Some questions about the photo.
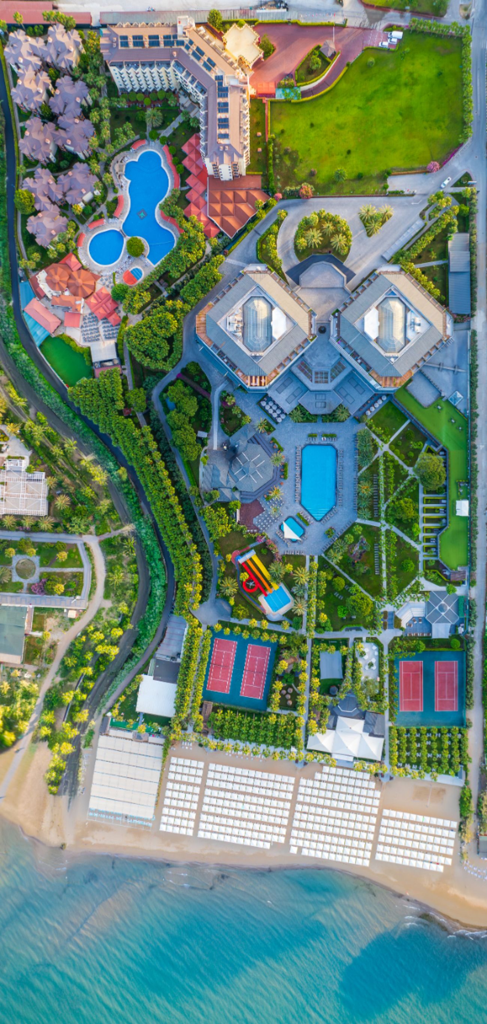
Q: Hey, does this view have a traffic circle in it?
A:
Yes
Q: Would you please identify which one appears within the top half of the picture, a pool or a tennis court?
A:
pool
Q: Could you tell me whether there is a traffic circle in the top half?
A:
Yes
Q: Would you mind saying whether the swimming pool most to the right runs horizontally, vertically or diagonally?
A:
vertically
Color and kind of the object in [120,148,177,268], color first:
blue swimming pool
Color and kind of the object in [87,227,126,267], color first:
blue swimming pool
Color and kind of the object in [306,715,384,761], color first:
white tent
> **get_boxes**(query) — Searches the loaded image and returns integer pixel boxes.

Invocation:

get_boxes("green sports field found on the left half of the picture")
[41,336,92,387]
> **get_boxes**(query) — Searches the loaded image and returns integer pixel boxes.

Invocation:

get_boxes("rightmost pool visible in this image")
[300,444,338,522]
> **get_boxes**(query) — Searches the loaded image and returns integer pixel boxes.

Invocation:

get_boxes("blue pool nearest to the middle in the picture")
[279,515,305,543]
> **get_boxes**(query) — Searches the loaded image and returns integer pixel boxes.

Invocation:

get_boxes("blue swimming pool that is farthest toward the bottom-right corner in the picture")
[263,586,292,613]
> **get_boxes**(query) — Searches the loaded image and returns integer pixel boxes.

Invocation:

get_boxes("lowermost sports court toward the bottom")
[412,786,446,809]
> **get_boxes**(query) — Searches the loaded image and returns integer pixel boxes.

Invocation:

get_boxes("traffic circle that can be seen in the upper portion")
[294,212,353,264]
